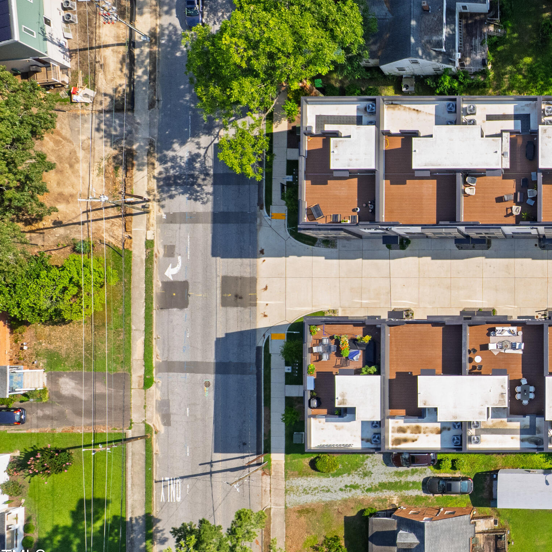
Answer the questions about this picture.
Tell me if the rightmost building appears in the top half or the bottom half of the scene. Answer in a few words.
bottom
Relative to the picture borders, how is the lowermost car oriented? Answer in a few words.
from side to side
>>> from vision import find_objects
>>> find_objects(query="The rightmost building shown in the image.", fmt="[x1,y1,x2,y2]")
[497,469,552,509]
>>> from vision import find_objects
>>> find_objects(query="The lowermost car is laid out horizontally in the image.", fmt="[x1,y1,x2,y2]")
[428,474,473,496]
